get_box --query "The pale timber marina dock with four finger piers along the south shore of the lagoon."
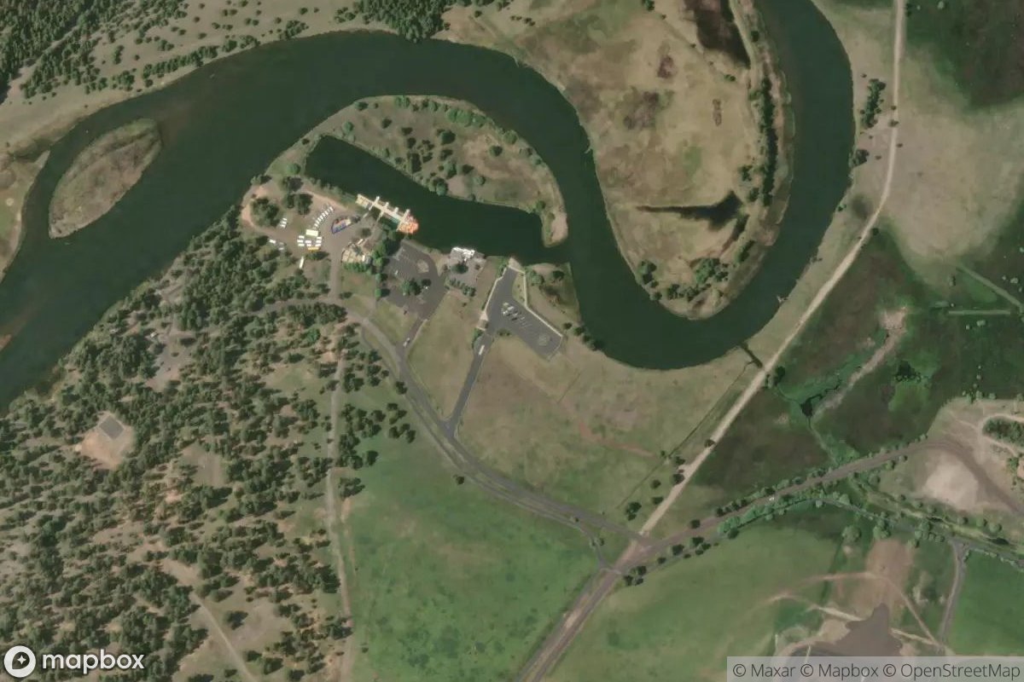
[355,195,409,231]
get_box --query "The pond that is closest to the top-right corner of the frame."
[693,0,750,68]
